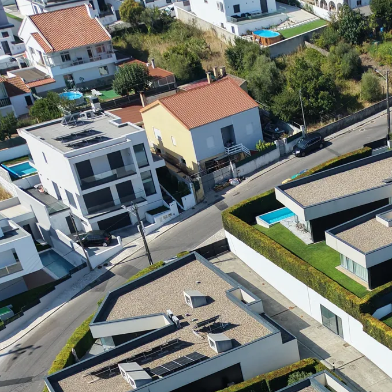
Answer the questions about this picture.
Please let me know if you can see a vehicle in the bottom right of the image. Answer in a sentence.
No, there is no vehicle in the bottom right of the image.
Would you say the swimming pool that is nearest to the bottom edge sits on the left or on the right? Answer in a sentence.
The swimming pool that is nearest to the bottom edge sits on the left side.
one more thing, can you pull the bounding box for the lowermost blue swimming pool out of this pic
[39,248,70,276]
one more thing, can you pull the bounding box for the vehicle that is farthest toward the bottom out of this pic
[79,229,112,247]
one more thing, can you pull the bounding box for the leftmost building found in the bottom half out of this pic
[0,211,48,301]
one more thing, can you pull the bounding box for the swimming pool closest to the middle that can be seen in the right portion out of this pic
[255,201,296,226]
